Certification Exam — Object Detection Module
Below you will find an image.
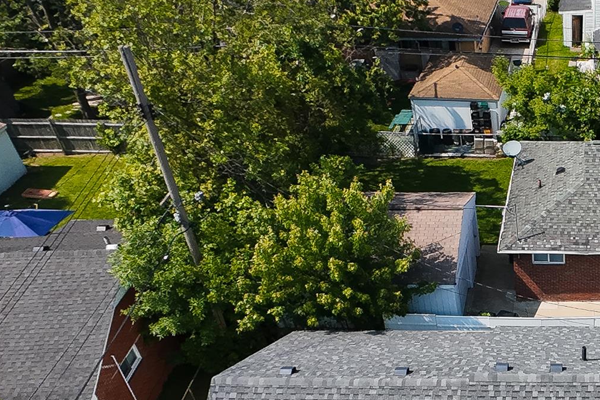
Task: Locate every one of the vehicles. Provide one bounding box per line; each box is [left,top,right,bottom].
[512,0,536,13]
[502,6,533,39]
